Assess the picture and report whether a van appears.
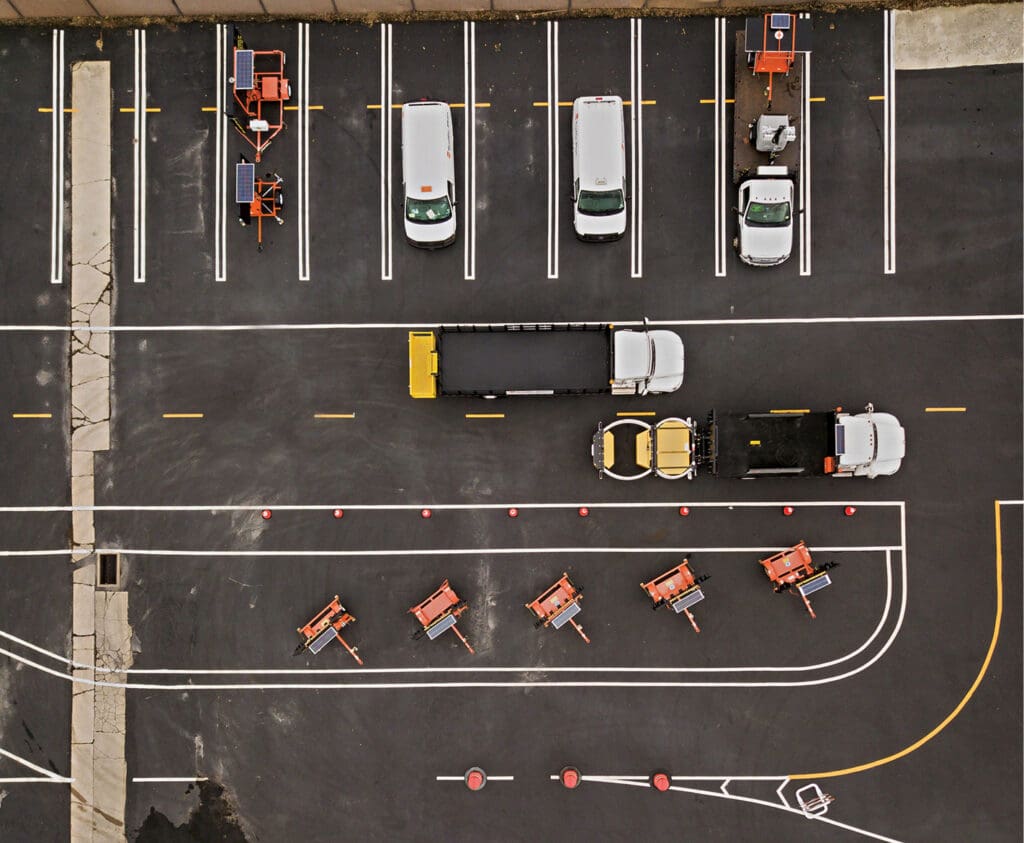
Yes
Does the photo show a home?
No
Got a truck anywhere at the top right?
Yes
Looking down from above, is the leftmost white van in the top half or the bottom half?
top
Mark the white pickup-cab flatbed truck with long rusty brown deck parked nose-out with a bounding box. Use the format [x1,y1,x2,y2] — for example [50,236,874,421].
[731,32,807,267]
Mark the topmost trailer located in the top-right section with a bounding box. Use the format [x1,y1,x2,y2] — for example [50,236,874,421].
[745,13,812,110]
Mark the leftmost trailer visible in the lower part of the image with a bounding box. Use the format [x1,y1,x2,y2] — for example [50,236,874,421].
[294,594,365,665]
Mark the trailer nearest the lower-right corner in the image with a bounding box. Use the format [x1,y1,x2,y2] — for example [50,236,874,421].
[753,539,837,618]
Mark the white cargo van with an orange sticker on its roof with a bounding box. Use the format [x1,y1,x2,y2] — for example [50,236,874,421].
[396,101,461,250]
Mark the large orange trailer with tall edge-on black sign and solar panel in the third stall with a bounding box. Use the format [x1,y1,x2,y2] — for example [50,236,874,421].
[228,24,293,162]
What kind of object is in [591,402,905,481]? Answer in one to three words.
truck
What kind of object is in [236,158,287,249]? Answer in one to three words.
trailer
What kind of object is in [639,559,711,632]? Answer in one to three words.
trailer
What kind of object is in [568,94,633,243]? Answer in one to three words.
van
